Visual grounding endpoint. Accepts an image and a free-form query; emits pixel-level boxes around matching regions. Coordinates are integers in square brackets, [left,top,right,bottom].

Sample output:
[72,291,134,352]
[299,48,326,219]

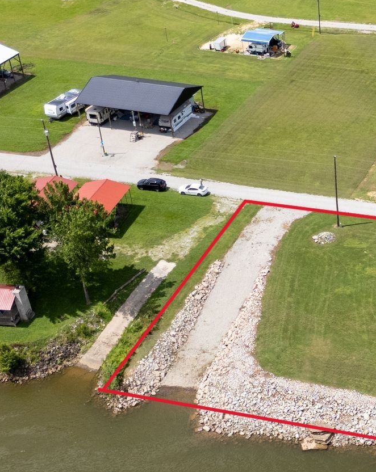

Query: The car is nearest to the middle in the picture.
[177,180,209,195]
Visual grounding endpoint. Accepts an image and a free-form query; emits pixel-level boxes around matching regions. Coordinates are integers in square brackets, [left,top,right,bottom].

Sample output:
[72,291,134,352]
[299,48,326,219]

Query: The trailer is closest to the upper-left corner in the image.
[49,83,86,118]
